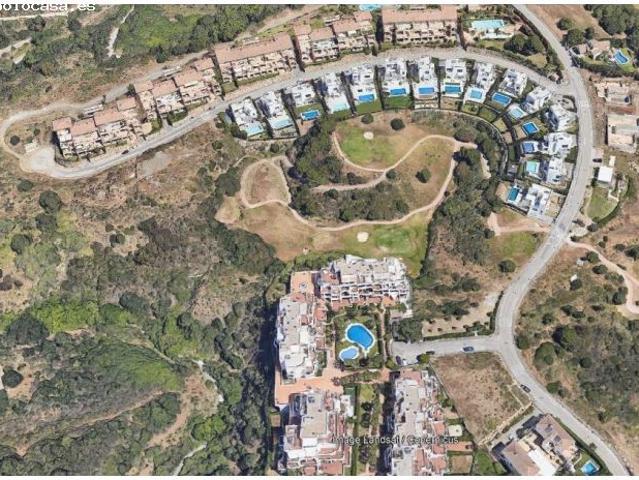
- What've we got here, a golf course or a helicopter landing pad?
golf course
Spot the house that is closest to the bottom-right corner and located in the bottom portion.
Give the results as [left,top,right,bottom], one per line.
[499,414,577,480]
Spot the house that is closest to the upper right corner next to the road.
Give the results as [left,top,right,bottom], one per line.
[575,39,614,61]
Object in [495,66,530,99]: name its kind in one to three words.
house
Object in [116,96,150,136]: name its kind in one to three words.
house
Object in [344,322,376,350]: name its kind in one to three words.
swimming pool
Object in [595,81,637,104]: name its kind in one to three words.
building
